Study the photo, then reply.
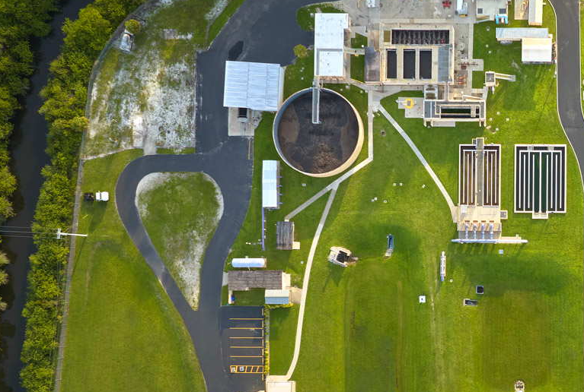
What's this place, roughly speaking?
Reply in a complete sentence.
The picture captures an industrial area.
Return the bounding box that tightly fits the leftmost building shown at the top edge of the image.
[314,12,353,84]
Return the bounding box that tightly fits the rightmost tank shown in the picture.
[515,145,566,220]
